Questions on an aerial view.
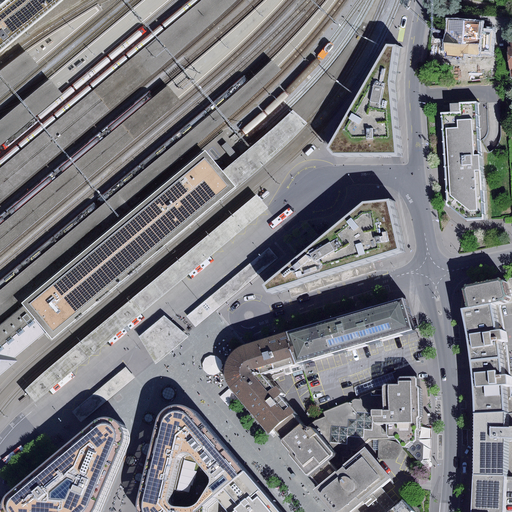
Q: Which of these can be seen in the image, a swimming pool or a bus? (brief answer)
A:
bus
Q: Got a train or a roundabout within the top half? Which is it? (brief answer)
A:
train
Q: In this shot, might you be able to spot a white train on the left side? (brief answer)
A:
Yes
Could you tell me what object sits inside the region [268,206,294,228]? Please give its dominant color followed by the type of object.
white bus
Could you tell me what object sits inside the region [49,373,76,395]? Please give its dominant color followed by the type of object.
white bus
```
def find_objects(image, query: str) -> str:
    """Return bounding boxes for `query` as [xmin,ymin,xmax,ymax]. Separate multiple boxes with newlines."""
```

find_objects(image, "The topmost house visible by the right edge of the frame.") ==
[438,15,495,60]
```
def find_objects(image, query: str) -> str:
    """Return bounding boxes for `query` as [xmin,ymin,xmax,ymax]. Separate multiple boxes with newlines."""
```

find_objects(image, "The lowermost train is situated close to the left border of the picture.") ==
[0,202,98,288]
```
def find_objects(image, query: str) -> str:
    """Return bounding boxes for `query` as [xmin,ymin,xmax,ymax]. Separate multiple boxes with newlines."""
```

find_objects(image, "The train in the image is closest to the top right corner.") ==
[286,60,322,96]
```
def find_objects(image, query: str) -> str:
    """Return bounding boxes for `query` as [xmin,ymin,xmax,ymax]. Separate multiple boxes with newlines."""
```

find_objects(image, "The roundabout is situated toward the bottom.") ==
[226,295,267,332]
